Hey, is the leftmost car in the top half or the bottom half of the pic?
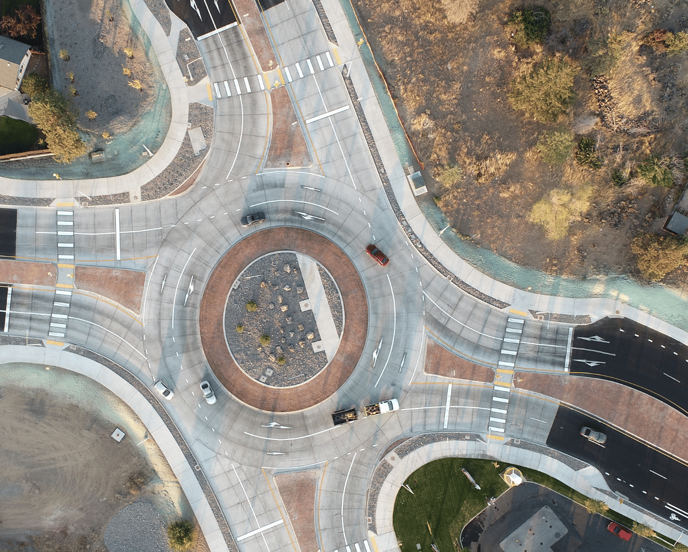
bottom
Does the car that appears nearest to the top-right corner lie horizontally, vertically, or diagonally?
diagonally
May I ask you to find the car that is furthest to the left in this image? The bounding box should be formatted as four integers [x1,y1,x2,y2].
[152,377,175,402]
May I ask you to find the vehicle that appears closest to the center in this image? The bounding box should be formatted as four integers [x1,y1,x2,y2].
[364,244,390,266]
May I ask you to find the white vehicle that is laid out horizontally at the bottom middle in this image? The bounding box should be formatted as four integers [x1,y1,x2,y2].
[364,399,399,416]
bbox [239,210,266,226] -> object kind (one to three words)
car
